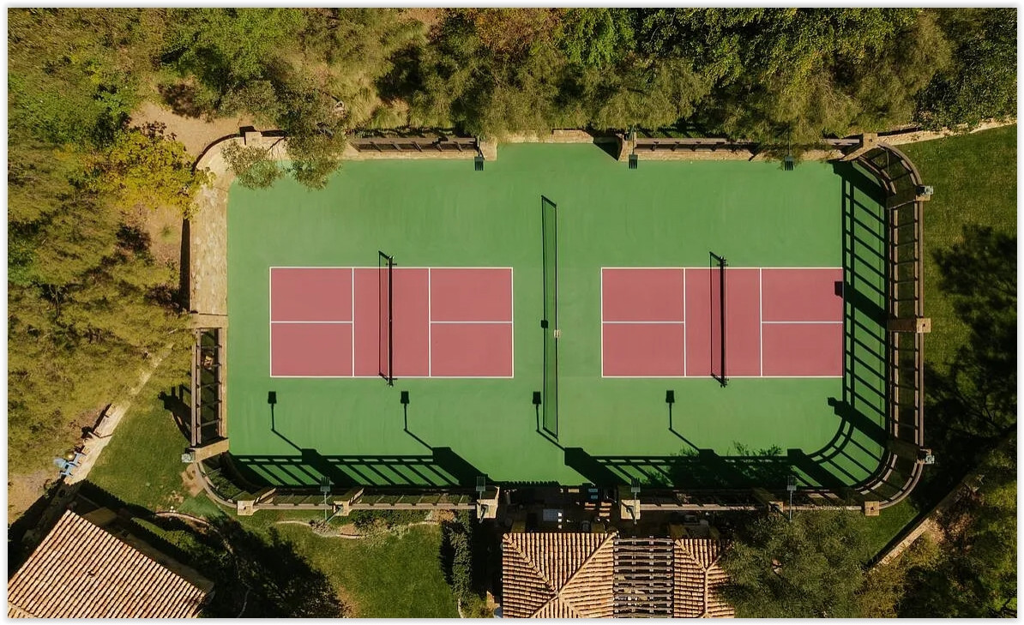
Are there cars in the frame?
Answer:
No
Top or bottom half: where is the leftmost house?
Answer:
bottom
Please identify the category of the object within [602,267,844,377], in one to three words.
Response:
sports court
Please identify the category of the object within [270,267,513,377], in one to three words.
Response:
sports court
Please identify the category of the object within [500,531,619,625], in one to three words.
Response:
building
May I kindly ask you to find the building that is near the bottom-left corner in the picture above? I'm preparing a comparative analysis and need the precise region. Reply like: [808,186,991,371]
[0,506,225,625]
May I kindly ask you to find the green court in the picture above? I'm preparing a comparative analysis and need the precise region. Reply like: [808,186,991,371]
[227,143,887,490]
